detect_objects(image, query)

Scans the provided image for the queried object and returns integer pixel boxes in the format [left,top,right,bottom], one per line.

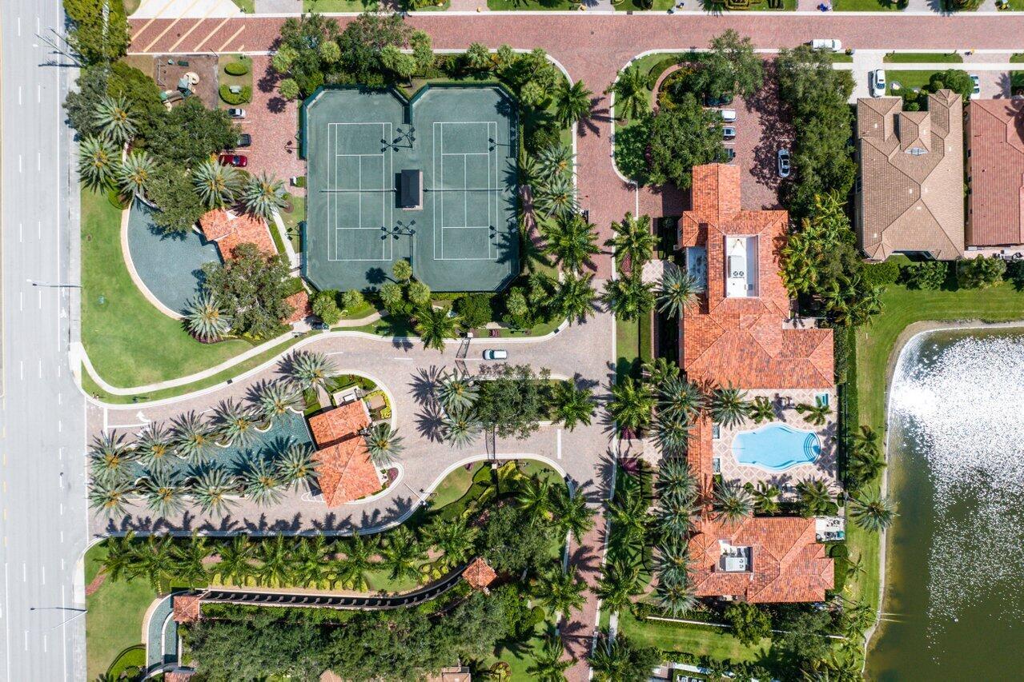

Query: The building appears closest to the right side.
[962,99,1024,245]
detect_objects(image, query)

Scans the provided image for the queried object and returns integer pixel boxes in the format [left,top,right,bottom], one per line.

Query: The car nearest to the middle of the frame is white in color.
[482,348,508,361]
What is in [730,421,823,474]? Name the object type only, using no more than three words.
swimming pool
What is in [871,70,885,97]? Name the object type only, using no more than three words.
car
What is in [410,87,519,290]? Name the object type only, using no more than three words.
tennis court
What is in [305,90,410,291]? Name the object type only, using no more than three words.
tennis court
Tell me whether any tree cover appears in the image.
Yes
